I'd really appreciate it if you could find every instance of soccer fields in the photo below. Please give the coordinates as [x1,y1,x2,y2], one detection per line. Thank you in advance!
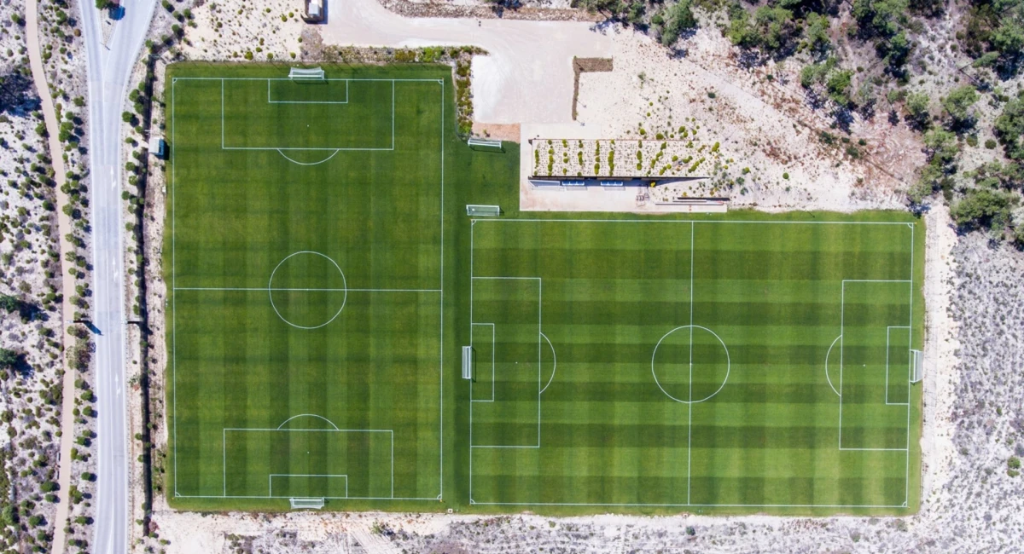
[173,78,443,500]
[470,219,913,507]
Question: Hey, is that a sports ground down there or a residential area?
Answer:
sports ground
